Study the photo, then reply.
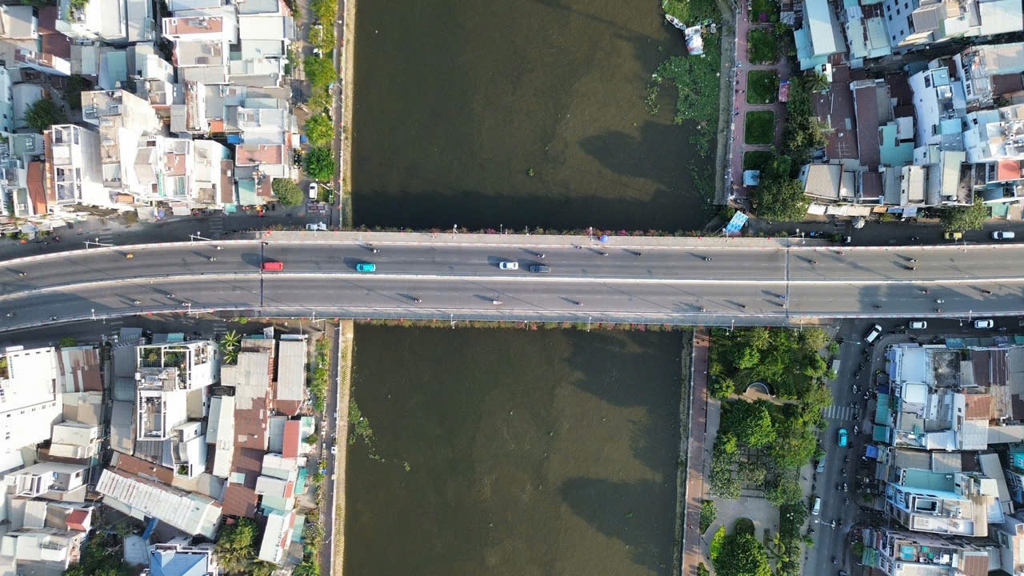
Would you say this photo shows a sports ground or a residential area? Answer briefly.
residential area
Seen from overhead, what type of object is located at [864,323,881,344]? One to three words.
vehicle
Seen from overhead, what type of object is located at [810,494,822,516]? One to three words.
vehicle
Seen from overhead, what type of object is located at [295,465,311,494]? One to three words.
shed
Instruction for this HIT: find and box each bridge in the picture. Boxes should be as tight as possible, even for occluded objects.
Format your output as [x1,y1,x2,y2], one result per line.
[0,228,1024,332]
